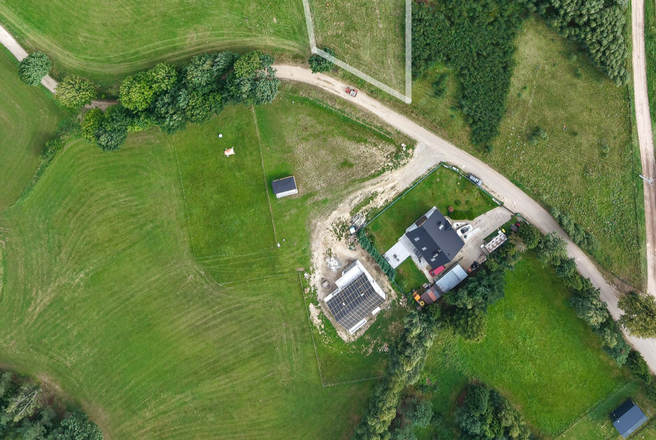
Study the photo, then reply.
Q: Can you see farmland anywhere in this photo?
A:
Yes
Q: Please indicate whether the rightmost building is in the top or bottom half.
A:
bottom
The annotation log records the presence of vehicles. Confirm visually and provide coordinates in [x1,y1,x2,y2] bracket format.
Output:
[456,223,473,237]
[412,290,420,300]
[467,173,484,187]
[346,87,356,97]
[429,266,445,277]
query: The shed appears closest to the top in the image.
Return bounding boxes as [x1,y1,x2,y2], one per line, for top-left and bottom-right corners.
[272,175,298,196]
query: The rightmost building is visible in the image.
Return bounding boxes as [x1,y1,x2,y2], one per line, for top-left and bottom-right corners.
[606,393,649,439]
